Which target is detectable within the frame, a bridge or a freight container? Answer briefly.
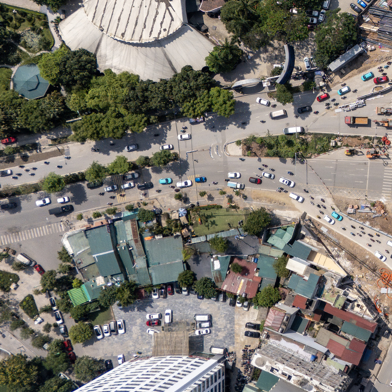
freight container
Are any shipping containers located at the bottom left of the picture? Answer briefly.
No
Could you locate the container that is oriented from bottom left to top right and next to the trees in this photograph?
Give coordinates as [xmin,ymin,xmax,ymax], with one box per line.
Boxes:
[328,45,367,72]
